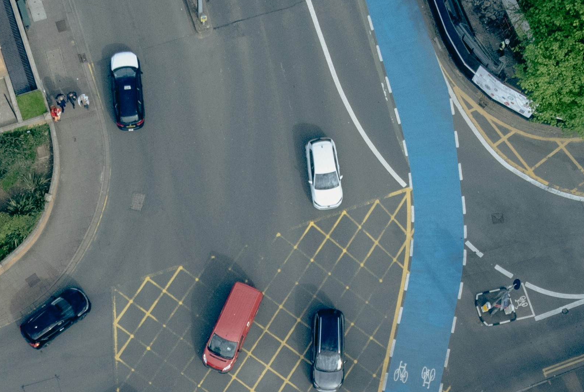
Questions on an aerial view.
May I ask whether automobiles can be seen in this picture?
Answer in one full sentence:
Yes, looking at the shot, I can spot an automobile.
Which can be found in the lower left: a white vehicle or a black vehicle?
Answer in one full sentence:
It is a black vehicle that can be seen in the lower left.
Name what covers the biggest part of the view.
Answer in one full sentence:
Most of the picture is covered by paved ground.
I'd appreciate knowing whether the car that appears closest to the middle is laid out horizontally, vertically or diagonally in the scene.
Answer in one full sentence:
In this picture, the car that appears closest to the middle is oriented vertically.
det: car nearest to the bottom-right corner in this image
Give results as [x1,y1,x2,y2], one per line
[309,309,349,392]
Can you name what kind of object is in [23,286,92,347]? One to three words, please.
car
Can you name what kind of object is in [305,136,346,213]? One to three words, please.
car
